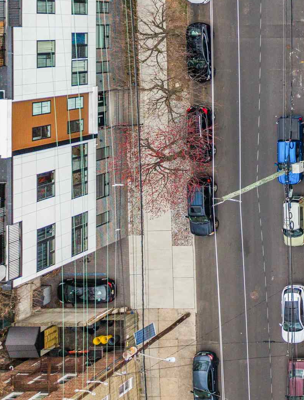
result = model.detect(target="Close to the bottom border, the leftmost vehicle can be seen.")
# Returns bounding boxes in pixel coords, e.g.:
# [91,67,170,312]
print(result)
[190,349,223,400]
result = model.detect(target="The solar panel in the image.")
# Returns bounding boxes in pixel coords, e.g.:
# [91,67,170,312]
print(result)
[134,323,156,341]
